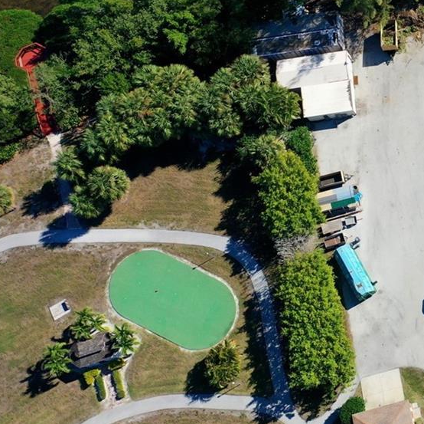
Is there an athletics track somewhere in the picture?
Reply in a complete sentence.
No, I can see no athletics track in this picture.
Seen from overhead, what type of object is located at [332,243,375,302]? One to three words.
camper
